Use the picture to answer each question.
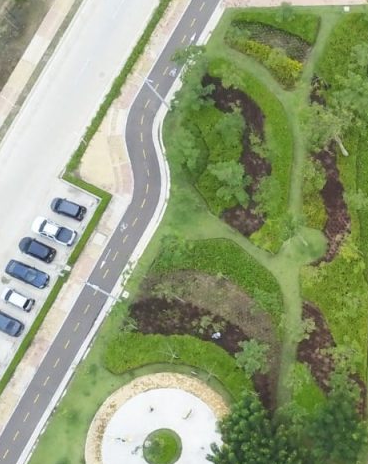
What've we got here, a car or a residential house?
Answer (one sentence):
Looking from above, you can make out a car.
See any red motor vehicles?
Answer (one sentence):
No, there is no red motor vehicle in the image.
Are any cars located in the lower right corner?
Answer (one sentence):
No, no car can be made out in the lower right corner.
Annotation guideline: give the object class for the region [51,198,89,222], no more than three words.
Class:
car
